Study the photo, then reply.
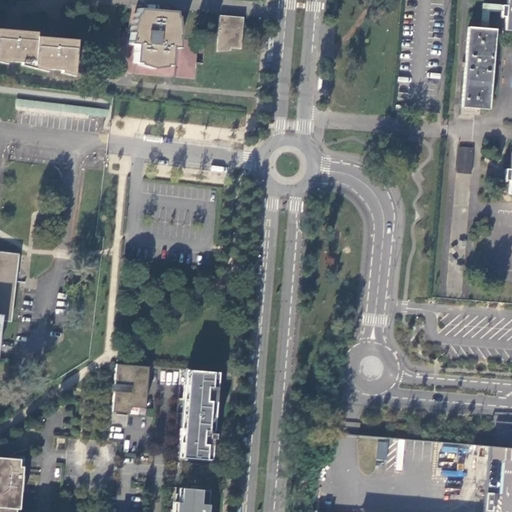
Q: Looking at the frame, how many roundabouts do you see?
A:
2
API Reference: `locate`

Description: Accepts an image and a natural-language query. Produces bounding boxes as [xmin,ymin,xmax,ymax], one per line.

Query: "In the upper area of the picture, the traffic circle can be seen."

[258,135,318,194]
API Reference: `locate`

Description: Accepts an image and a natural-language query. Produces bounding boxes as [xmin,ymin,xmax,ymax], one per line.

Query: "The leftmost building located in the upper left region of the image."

[0,24,40,68]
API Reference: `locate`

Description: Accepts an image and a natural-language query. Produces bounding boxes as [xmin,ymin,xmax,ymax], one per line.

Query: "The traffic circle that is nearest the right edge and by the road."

[342,339,400,399]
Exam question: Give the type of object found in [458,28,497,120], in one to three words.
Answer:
building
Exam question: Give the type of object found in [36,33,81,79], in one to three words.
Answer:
building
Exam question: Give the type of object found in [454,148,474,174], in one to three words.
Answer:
shed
